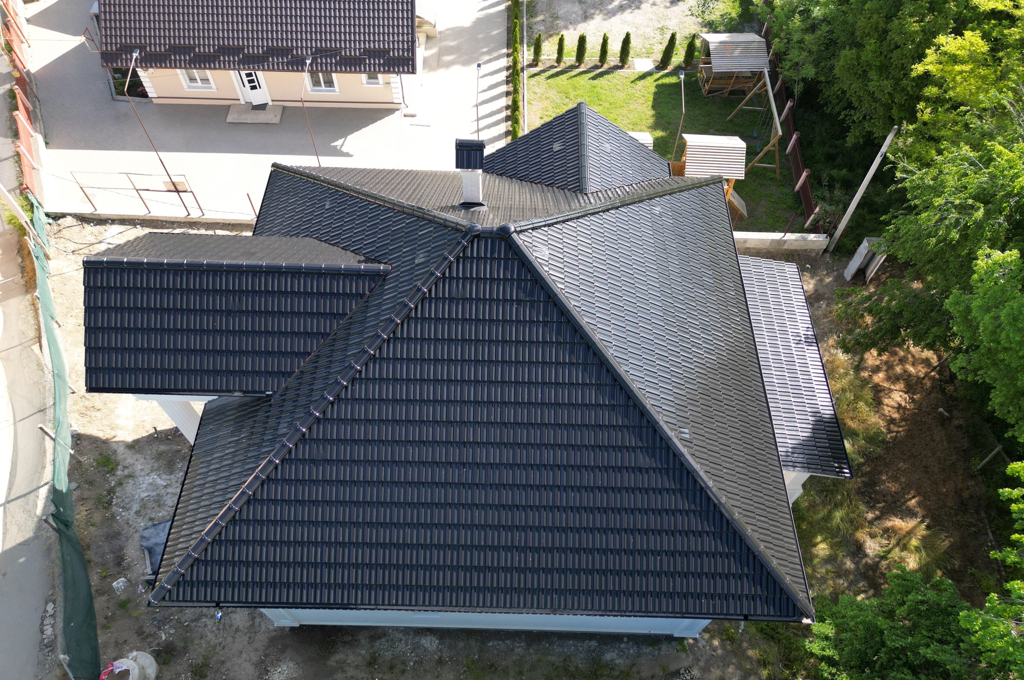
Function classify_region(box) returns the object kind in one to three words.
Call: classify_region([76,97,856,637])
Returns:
house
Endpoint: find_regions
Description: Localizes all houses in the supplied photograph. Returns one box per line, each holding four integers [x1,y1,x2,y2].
[76,97,856,637]
[95,0,419,124]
